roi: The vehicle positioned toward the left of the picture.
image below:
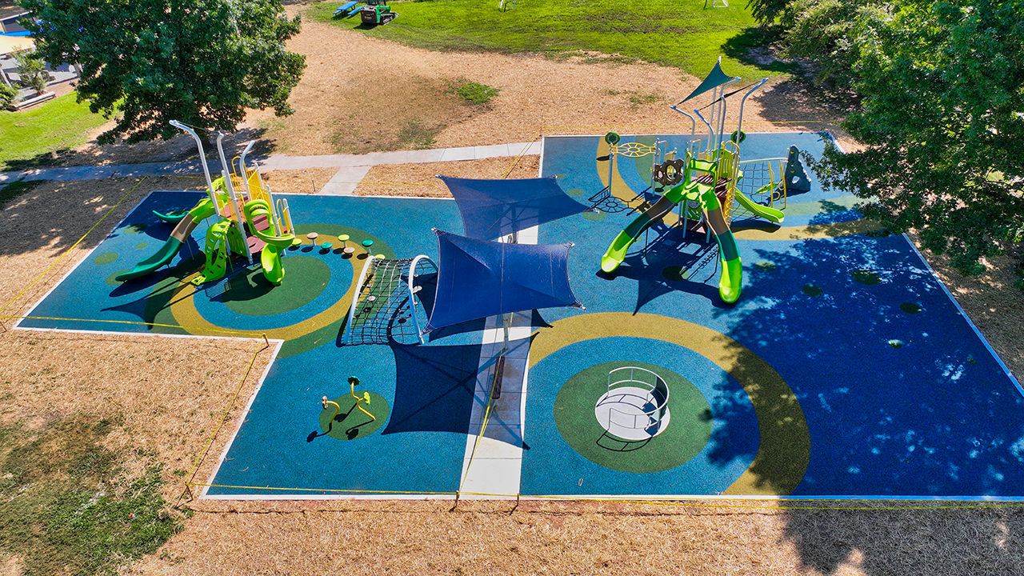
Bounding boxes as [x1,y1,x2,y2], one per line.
[359,0,398,23]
